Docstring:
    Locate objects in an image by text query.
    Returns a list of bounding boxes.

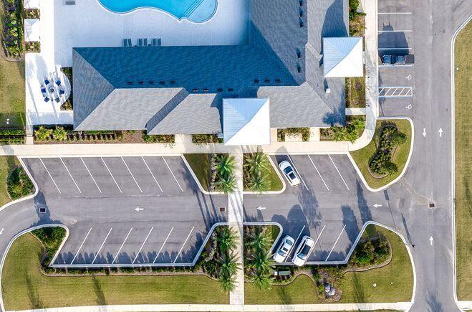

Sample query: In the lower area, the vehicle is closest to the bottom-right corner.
[291,235,314,264]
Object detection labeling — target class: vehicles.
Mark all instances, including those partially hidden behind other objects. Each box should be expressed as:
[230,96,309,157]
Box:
[278,159,299,187]
[380,52,415,66]
[291,235,314,264]
[273,235,294,262]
